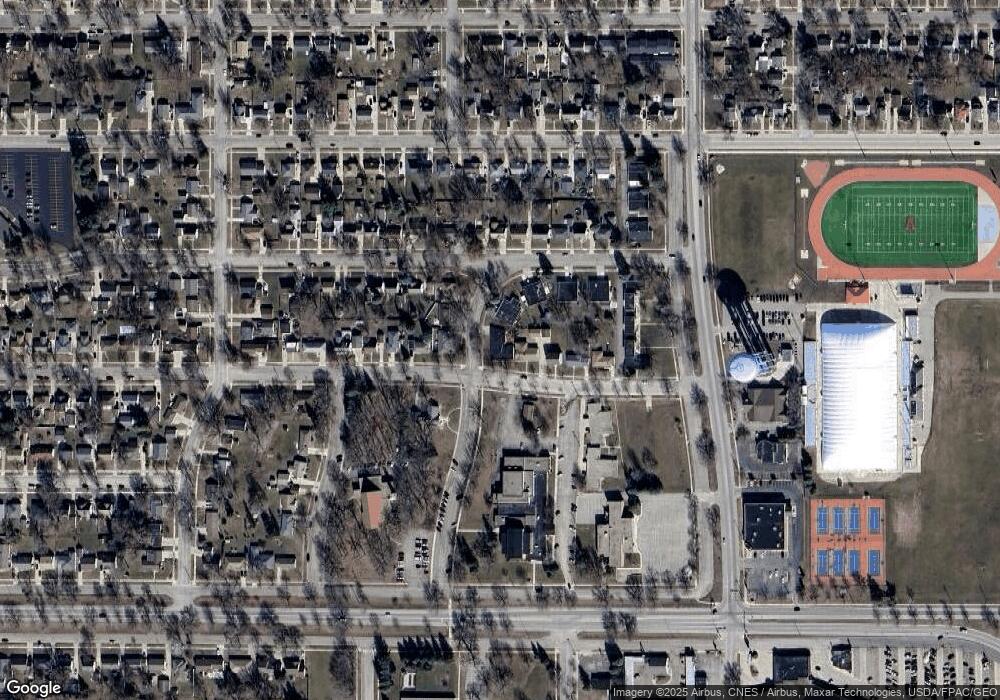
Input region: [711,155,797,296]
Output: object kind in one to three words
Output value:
sports field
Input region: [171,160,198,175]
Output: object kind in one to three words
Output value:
house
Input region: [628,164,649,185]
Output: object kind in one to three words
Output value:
building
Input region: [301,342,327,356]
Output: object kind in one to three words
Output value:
house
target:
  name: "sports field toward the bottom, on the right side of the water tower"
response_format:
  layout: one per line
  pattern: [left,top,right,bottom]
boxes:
[887,299,1000,602]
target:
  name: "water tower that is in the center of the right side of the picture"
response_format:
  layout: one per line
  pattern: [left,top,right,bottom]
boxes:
[728,350,776,382]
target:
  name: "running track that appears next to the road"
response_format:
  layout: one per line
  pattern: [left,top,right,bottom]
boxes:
[808,168,1000,280]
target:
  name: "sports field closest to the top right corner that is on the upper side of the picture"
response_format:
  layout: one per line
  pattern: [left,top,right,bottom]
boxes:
[820,182,1000,266]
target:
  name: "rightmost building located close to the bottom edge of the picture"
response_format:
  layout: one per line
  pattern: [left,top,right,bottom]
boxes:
[830,650,853,669]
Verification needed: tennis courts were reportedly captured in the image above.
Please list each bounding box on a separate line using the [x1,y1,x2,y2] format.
[848,508,860,533]
[866,550,880,576]
[815,508,828,533]
[848,550,860,576]
[832,550,844,576]
[815,550,828,576]
[832,508,844,533]
[866,508,880,533]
